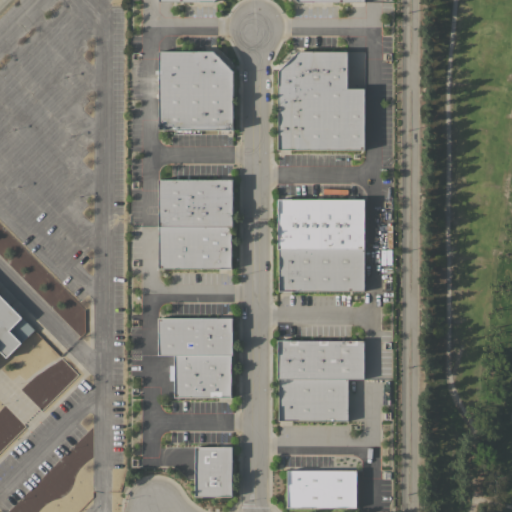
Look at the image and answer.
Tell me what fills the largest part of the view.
paved ground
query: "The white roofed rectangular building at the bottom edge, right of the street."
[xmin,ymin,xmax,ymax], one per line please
[287,470,358,508]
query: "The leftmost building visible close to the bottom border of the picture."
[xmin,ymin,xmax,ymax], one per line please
[195,447,232,497]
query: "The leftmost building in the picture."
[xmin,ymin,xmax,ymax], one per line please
[0,295,34,359]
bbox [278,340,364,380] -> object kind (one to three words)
building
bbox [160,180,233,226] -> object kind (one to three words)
building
